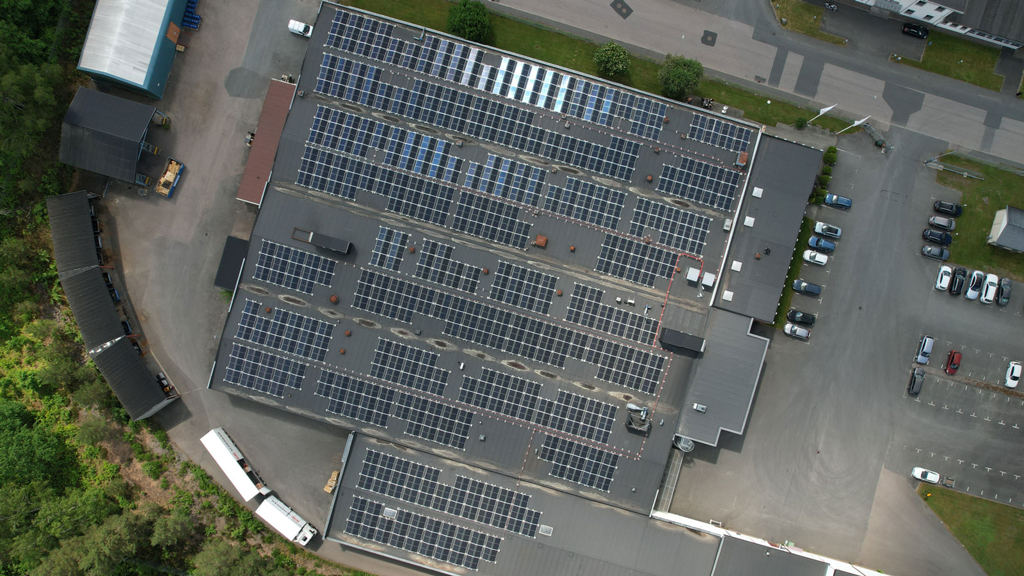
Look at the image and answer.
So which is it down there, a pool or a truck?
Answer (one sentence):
Looking from above, you can make out a truck.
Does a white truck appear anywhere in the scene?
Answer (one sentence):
Yes, the picture does show a white truck.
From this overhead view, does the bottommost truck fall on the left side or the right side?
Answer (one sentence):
The bottommost truck is on the left side of the image.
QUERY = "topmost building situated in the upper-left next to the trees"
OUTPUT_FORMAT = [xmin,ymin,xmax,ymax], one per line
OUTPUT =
[76,0,188,99]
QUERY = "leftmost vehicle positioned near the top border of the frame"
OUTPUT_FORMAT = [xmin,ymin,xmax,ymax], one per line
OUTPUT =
[285,18,314,37]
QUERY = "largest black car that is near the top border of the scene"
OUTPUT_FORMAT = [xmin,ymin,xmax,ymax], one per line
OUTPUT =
[901,23,929,40]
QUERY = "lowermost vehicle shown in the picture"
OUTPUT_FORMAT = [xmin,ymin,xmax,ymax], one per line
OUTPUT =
[256,494,318,547]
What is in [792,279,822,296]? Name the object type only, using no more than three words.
car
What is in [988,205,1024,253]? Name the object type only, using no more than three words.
house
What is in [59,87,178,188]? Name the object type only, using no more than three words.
shed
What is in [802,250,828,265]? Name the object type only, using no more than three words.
car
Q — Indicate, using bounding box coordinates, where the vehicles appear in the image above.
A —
[922,230,951,246]
[787,309,816,326]
[945,350,963,375]
[933,201,962,216]
[921,245,950,261]
[792,279,822,296]
[256,494,318,547]
[808,236,836,252]
[1004,362,1023,387]
[814,221,843,238]
[802,250,828,265]
[928,216,956,231]
[824,193,852,209]
[825,1,838,9]
[907,367,925,396]
[916,336,935,363]
[901,23,929,40]
[783,323,810,339]
[934,266,953,290]
[285,18,314,37]
[911,466,942,484]
[995,278,1013,305]
[965,271,984,298]
[979,275,1000,302]
[949,268,969,296]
